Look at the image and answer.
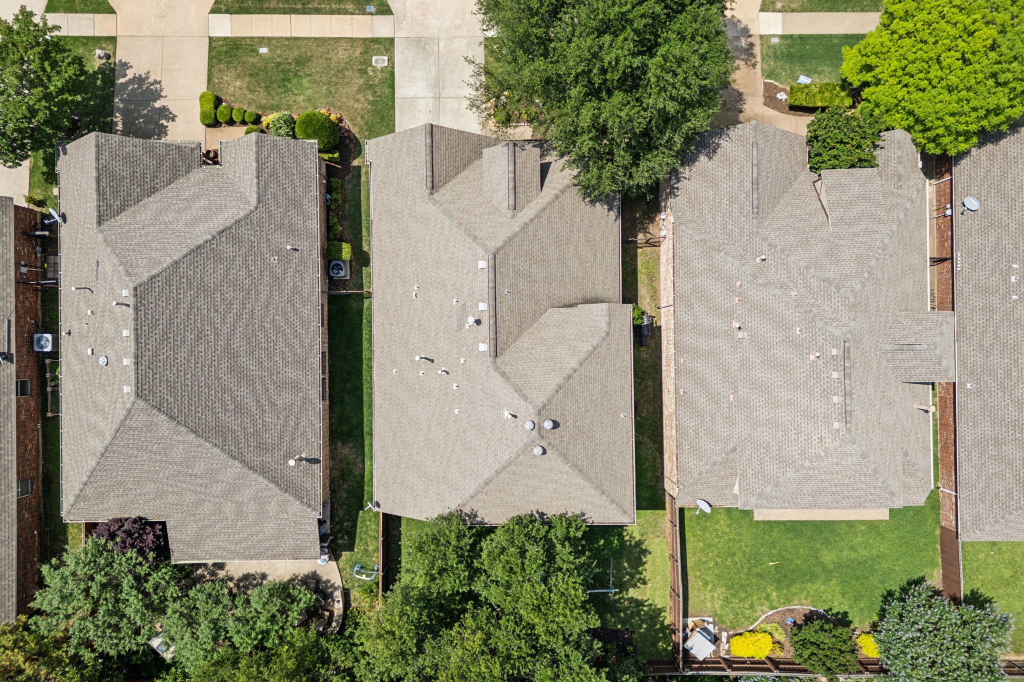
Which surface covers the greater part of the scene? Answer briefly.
buildings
